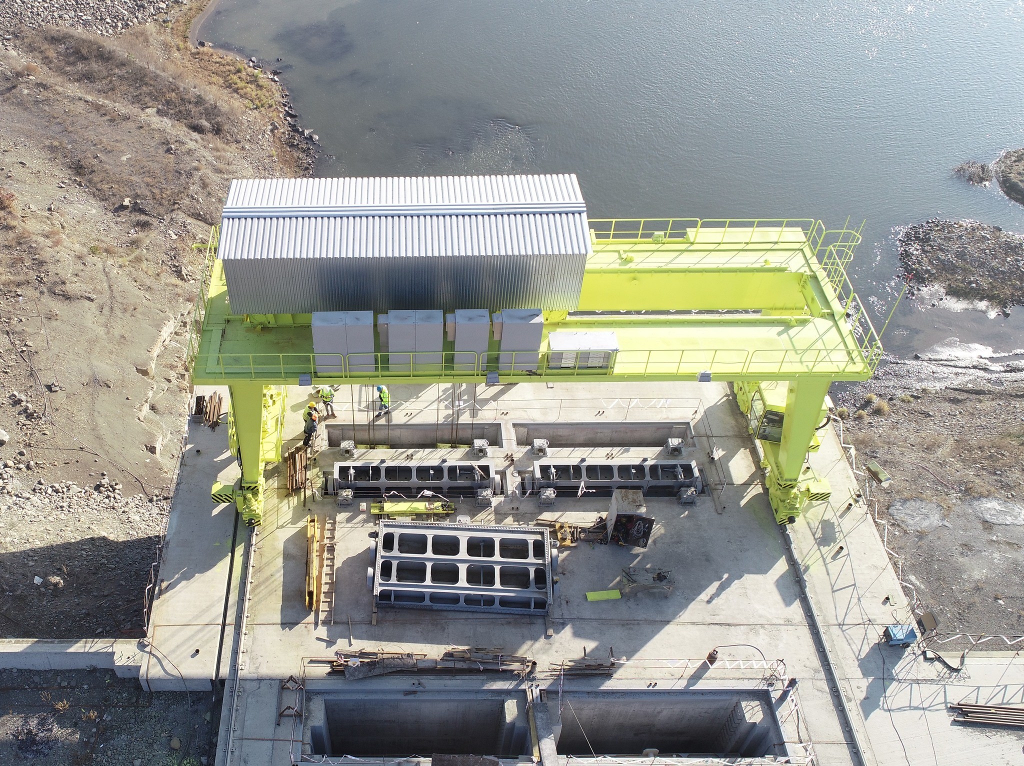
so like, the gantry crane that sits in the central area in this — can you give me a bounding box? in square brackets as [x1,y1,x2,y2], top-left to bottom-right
[190,225,881,541]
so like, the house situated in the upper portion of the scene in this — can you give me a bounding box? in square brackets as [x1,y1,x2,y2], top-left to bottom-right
[219,174,594,326]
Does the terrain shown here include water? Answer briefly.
Yes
